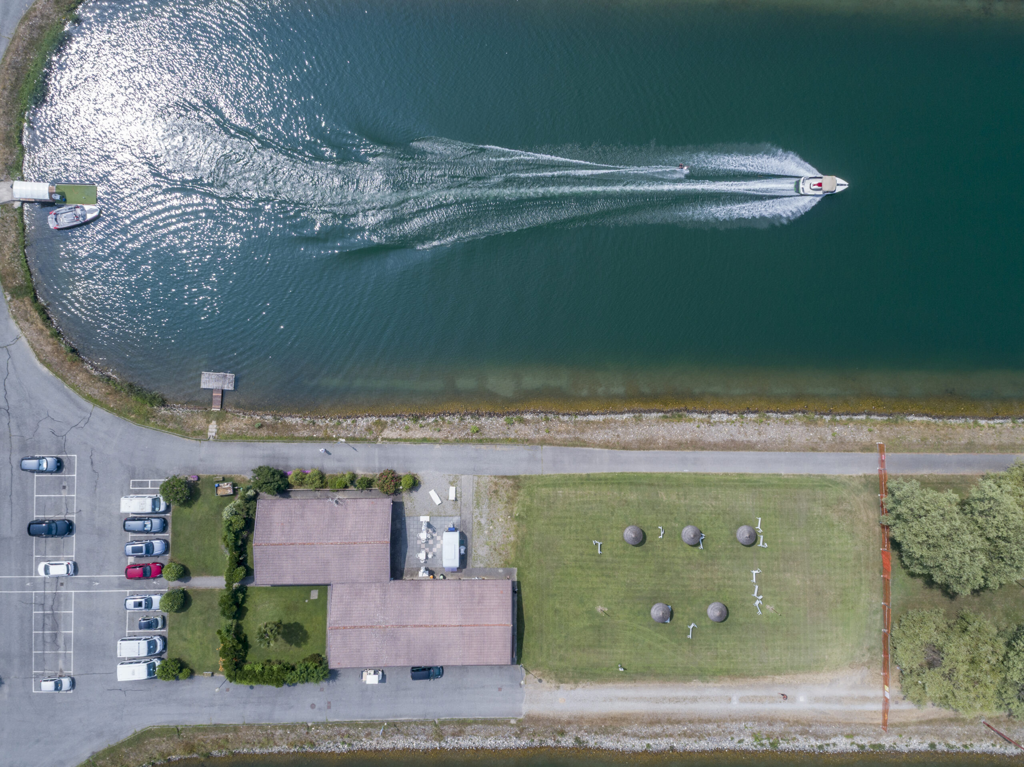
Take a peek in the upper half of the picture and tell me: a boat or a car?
boat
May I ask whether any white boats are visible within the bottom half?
No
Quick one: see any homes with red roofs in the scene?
No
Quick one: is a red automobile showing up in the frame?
Yes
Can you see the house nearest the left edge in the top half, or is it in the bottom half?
bottom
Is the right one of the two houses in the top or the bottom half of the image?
bottom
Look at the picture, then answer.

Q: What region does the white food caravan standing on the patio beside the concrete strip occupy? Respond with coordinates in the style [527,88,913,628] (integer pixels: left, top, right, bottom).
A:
[442,517,460,579]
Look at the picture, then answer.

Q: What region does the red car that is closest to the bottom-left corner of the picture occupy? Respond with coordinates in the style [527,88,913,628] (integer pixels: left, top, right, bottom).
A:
[125,562,163,580]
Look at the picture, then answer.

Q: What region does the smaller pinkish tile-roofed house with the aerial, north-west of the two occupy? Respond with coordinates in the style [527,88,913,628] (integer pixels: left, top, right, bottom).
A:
[251,497,392,586]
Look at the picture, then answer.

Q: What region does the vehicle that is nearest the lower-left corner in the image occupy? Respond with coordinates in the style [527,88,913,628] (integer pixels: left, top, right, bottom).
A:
[40,675,75,693]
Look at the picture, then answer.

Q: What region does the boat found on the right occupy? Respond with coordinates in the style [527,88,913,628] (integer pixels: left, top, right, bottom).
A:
[793,175,849,194]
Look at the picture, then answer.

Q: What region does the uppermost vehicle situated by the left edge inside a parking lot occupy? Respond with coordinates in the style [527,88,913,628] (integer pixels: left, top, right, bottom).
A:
[20,456,63,475]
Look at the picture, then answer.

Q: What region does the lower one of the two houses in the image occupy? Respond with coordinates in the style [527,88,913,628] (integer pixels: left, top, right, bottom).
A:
[328,579,514,669]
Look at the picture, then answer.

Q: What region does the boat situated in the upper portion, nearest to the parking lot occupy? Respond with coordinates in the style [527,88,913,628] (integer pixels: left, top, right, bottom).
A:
[47,204,100,229]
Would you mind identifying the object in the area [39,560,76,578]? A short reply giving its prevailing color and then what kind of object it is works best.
white car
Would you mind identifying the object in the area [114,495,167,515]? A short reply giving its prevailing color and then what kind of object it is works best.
white vehicle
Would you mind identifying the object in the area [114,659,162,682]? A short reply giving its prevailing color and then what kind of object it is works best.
white vehicle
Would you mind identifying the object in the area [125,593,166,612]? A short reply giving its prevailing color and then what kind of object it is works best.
white car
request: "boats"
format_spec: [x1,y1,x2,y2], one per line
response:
[793,175,849,194]
[47,204,100,229]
